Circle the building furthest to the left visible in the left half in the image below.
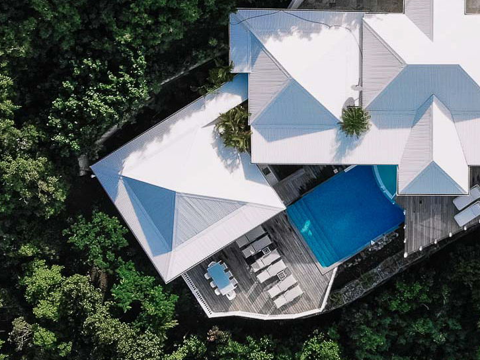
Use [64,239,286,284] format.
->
[88,72,288,283]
